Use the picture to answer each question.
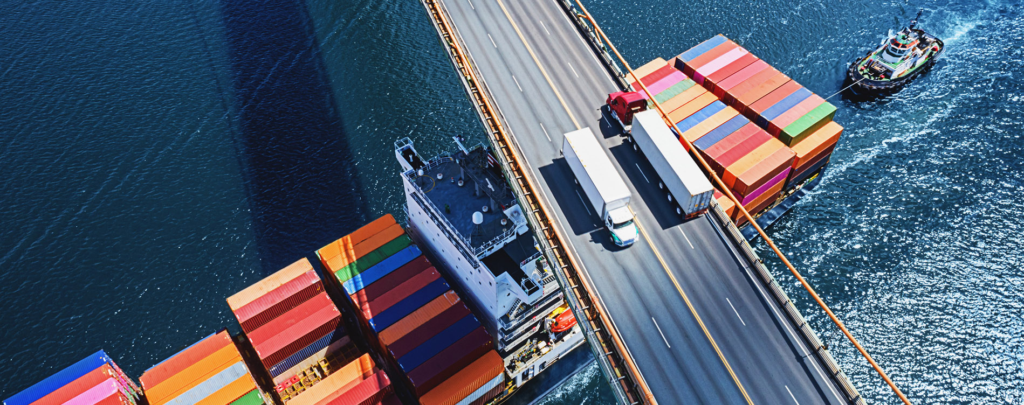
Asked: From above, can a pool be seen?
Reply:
No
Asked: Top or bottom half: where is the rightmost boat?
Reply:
top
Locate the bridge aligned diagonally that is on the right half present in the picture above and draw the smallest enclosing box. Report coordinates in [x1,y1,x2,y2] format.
[418,0,915,405]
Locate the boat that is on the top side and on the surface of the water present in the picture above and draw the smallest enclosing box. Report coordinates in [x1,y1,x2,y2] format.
[843,6,949,94]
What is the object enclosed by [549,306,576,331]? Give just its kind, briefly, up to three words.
boat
